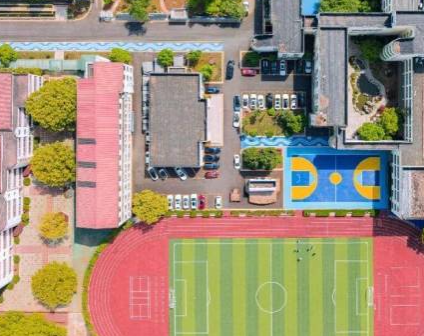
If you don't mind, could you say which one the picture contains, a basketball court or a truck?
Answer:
basketball court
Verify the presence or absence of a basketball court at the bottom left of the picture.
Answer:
No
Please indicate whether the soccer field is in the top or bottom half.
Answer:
bottom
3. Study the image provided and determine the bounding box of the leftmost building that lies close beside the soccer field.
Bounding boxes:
[77,64,136,228]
